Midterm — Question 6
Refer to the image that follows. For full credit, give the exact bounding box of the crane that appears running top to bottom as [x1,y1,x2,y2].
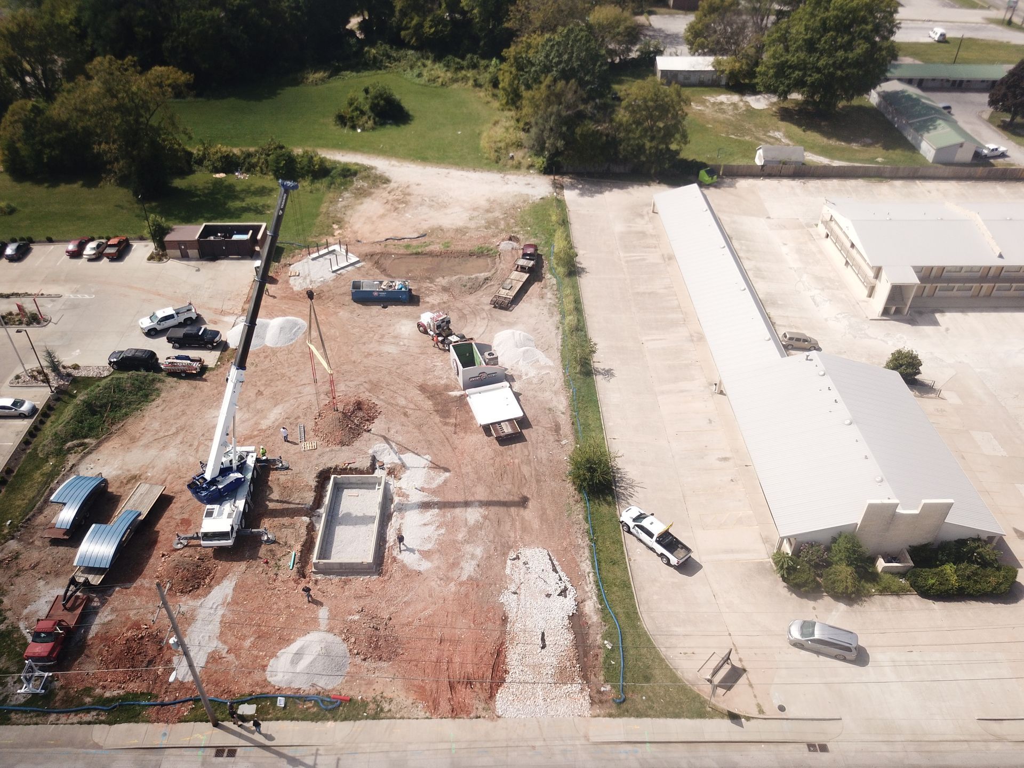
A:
[171,182,313,551]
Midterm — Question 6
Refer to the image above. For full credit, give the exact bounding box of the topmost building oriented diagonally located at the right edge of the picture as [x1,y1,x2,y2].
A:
[861,76,984,163]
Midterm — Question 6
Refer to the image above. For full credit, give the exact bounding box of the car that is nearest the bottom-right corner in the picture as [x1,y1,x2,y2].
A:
[786,616,862,661]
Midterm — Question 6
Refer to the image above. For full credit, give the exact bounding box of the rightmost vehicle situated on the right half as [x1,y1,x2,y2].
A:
[977,141,1009,158]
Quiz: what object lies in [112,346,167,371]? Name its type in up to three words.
car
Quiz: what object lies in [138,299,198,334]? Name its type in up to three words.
truck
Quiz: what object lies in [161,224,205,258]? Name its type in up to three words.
building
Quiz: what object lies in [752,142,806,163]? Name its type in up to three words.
shed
